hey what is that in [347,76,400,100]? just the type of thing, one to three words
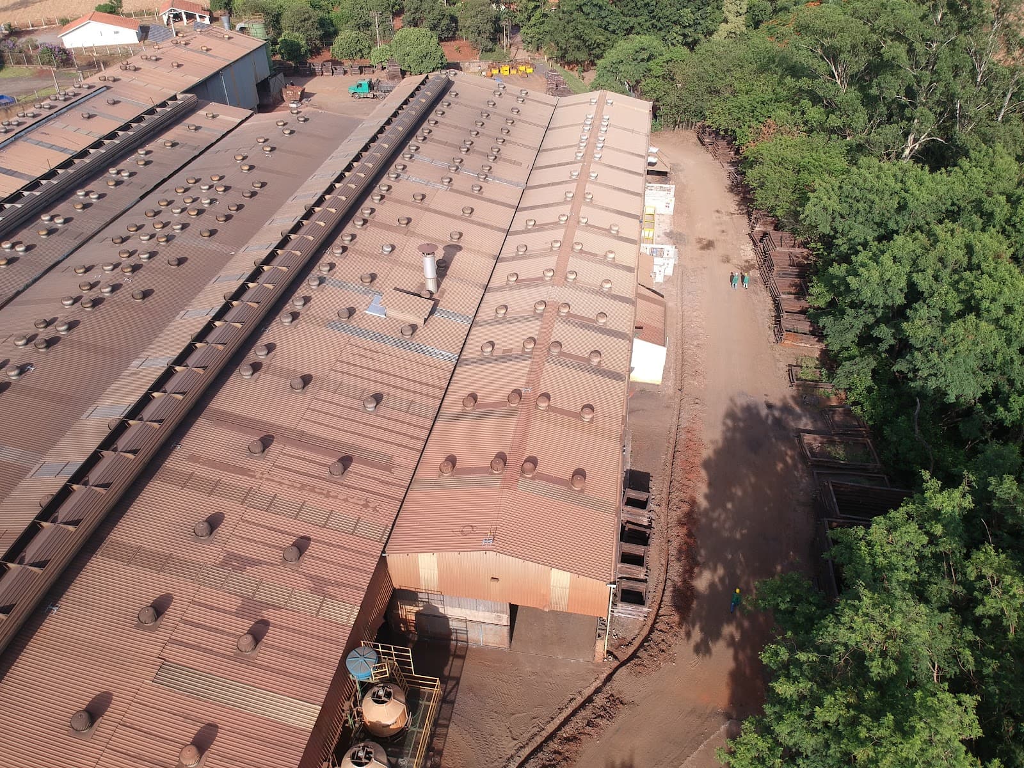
truck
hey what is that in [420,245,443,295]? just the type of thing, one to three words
chimney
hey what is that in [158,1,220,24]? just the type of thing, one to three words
house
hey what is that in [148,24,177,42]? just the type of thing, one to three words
solar array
